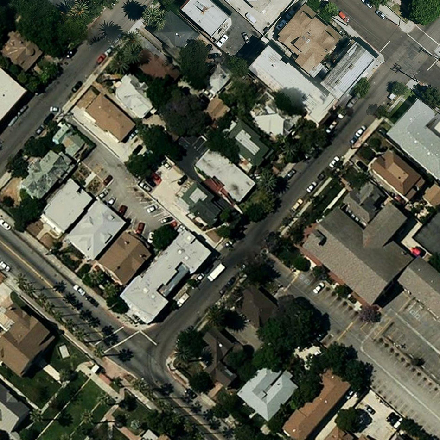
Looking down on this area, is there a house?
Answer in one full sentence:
Yes, there's a house here.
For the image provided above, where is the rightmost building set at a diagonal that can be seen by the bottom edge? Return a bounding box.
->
[282,368,350,440]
